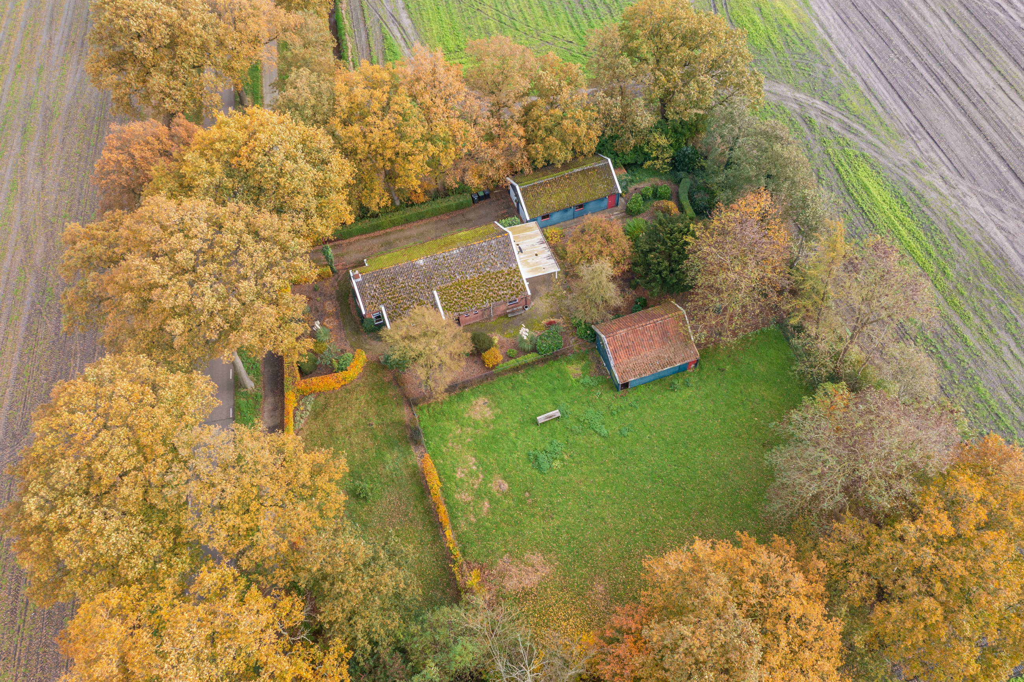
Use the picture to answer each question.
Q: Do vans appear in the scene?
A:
No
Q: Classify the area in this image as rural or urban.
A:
rural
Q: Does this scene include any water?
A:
No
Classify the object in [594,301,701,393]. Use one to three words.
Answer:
barn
